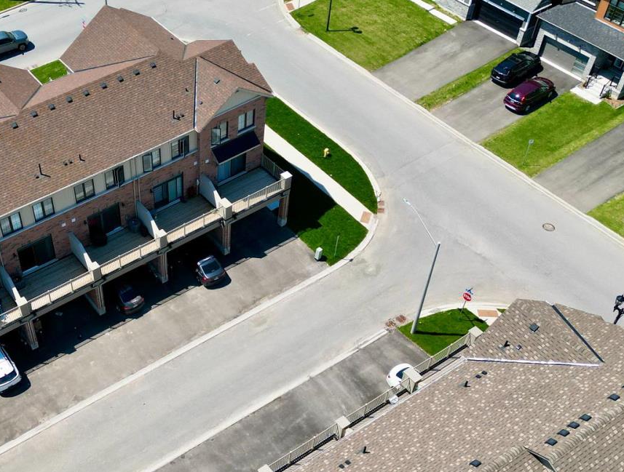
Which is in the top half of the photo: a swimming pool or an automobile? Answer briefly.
automobile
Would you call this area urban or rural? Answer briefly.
urban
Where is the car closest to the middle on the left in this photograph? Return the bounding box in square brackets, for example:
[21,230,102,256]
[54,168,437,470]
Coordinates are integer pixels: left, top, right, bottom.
[170,238,227,285]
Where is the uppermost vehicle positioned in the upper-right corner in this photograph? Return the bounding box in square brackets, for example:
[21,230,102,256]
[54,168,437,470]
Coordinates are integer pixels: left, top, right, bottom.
[489,53,546,88]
